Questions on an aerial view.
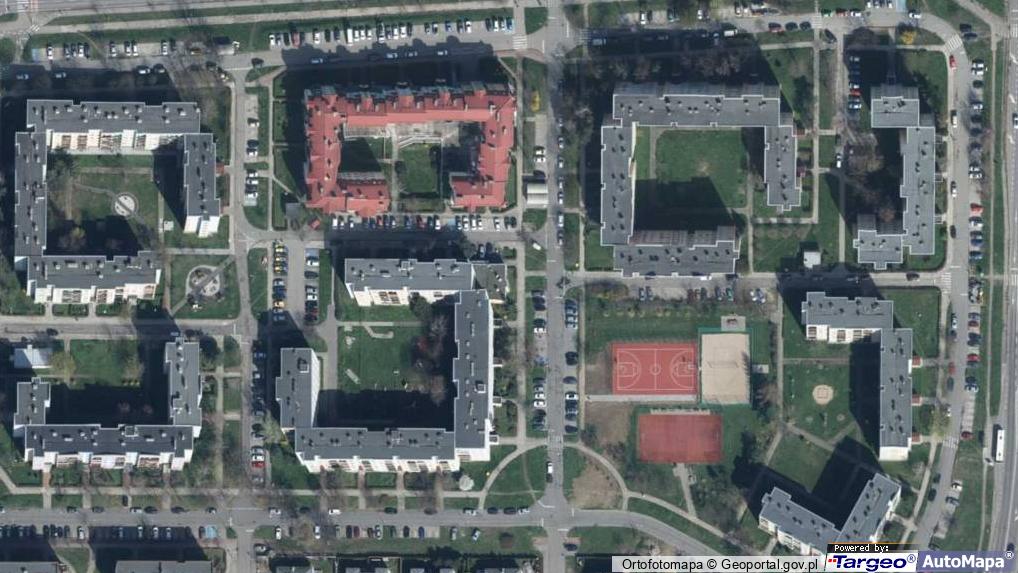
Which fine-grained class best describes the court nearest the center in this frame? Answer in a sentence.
It turns out the court nearest the center is a basketball court.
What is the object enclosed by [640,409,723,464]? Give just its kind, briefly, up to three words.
sports court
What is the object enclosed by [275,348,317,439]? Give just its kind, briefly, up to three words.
building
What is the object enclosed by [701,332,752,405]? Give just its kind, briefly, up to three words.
sports court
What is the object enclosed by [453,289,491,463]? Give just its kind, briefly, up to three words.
building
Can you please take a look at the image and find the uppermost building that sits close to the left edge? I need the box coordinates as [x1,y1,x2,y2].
[27,98,206,151]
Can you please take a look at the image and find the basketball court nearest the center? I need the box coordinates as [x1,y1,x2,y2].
[612,343,697,395]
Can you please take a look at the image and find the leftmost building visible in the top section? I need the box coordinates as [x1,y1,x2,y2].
[15,132,54,268]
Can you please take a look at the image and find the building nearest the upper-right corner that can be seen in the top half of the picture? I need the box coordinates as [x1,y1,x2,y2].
[870,86,933,142]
